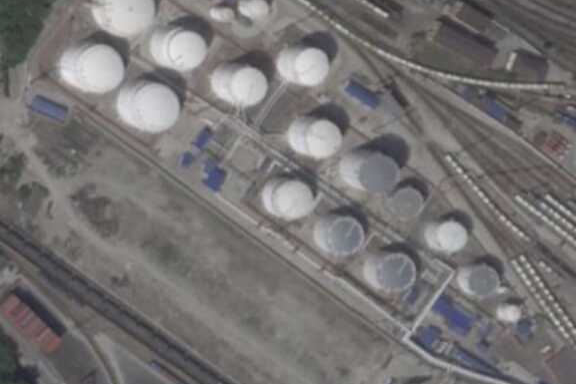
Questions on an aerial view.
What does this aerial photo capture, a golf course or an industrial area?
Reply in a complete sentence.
What you see here is an industrial area.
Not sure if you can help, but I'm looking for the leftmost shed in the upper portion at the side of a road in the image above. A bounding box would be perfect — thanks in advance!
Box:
[28,94,70,122]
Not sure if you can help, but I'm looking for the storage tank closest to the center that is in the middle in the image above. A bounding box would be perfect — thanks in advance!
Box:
[261,176,315,220]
